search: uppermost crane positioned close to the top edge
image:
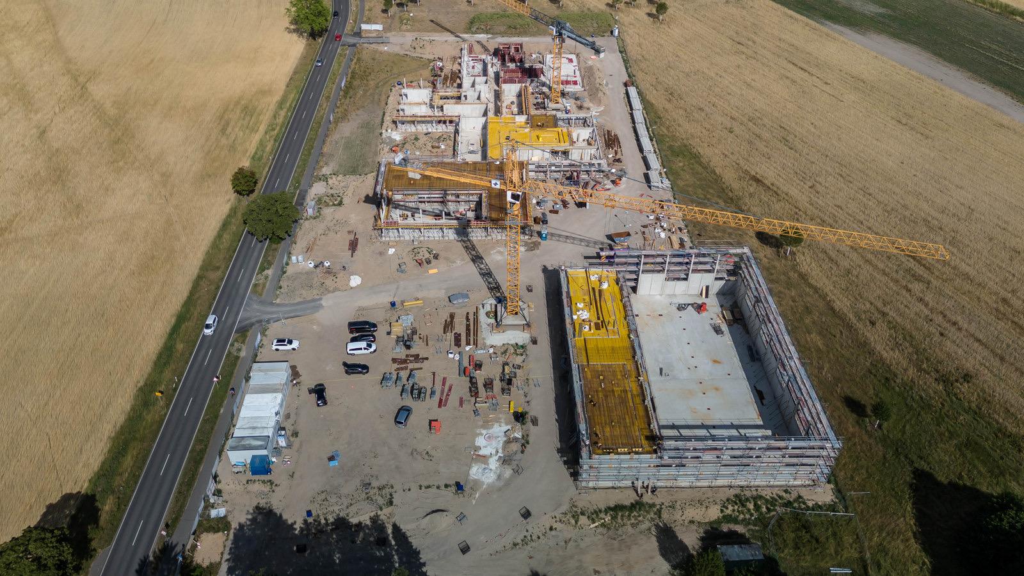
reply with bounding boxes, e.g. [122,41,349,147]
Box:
[501,0,601,104]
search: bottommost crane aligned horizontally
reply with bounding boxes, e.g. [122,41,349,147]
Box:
[392,138,942,324]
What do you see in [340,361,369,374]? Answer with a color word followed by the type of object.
black vehicle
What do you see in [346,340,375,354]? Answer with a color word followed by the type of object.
white vehicle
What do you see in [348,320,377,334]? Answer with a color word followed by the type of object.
black vehicle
